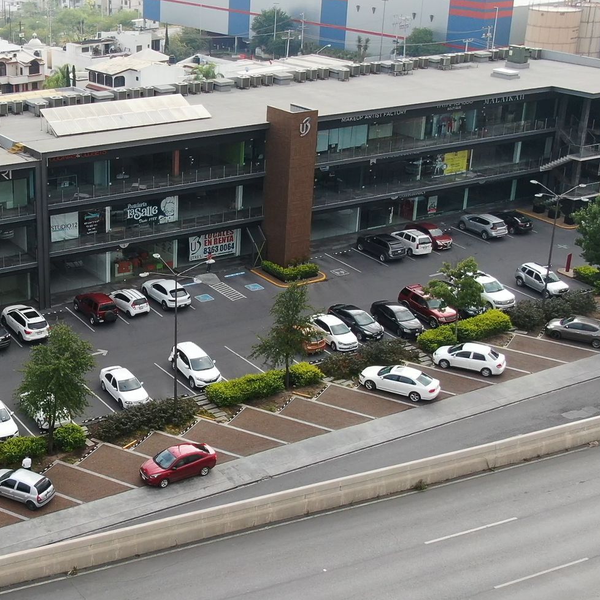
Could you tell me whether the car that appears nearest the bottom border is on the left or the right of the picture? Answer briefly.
left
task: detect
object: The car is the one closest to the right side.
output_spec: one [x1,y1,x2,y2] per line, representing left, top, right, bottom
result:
[541,311,600,346]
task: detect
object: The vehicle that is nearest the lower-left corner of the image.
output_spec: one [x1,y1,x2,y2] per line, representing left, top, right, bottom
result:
[0,462,61,507]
